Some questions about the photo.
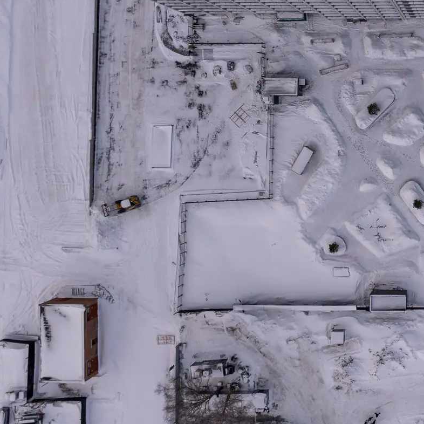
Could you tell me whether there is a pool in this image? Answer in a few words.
No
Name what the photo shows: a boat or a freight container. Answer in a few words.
freight container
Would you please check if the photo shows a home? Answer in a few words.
Yes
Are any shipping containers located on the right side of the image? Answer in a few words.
Yes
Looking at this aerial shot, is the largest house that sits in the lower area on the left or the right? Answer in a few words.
left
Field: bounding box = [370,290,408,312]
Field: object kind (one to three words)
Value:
building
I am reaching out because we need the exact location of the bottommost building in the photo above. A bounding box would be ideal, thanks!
[250,388,270,409]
